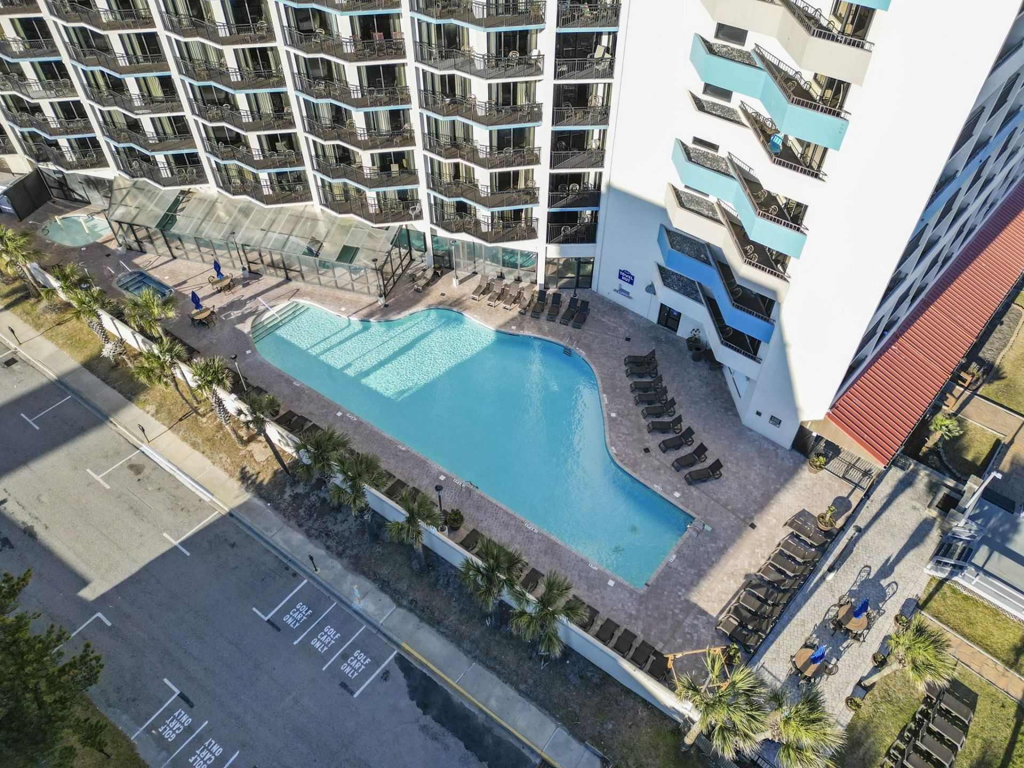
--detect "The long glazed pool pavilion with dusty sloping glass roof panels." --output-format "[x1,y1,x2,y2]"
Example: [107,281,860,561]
[111,181,414,299]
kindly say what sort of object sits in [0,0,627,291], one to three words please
building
